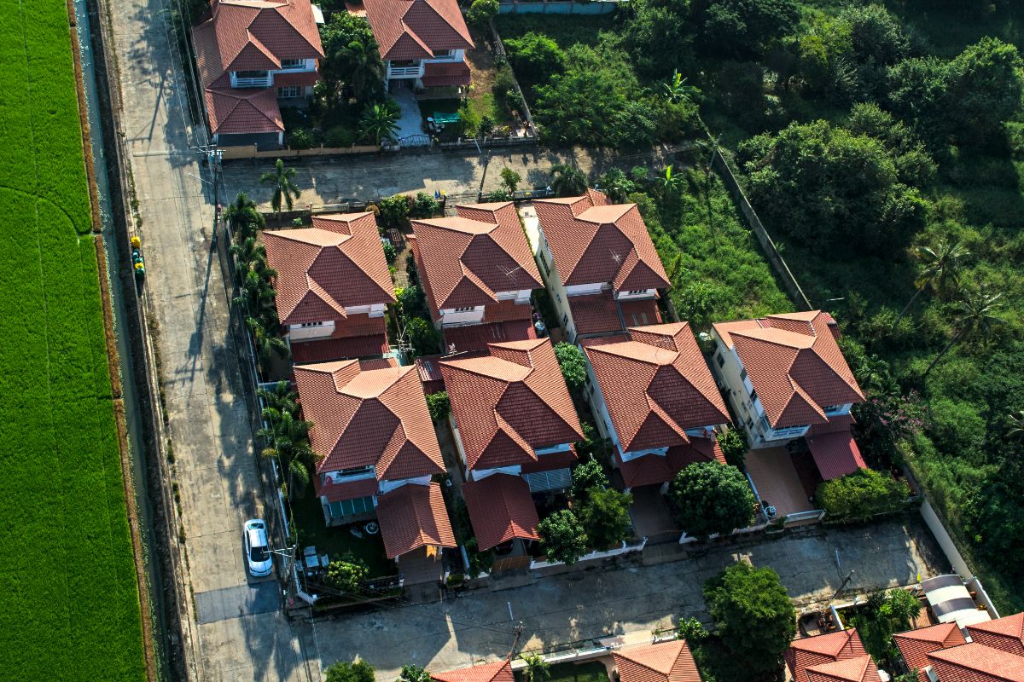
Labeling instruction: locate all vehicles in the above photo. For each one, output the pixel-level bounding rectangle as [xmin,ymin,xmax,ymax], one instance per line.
[242,521,273,578]
[489,541,514,560]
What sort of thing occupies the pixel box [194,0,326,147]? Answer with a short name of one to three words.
house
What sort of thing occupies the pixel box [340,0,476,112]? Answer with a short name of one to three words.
house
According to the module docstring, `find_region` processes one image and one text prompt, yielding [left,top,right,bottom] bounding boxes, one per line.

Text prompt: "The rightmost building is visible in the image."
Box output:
[878,614,1024,682]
